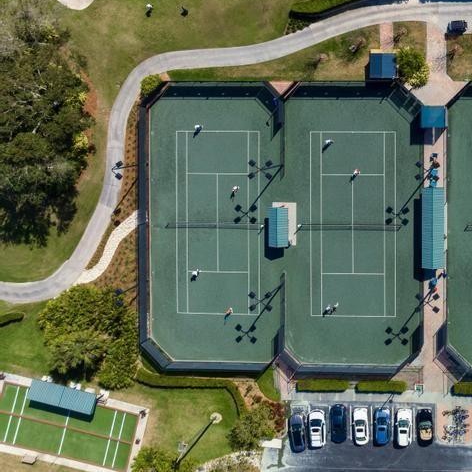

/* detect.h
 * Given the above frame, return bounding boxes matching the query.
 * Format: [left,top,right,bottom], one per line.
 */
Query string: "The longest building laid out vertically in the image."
[421,185,445,270]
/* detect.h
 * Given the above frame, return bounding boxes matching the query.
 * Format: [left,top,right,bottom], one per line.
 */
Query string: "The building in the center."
[269,205,292,248]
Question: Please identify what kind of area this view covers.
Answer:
sports ground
